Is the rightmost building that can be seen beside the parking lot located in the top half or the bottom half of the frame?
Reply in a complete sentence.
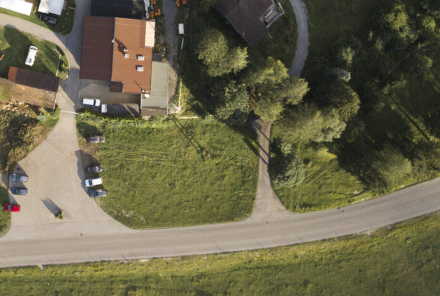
It is in the top half that the rightmost building that can be seen beside the parking lot appears.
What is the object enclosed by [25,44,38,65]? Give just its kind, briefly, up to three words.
vehicle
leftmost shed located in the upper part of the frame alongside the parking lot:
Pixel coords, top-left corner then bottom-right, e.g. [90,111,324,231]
[0,65,61,109]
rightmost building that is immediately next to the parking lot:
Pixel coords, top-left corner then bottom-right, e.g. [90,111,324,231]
[80,0,168,115]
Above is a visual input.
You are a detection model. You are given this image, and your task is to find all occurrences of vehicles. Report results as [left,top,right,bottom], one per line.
[87,164,102,174]
[39,13,57,24]
[5,202,21,212]
[87,134,106,144]
[84,177,102,185]
[25,44,38,65]
[88,188,107,197]
[12,172,30,182]
[82,97,101,107]
[11,187,27,195]
[101,102,140,118]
